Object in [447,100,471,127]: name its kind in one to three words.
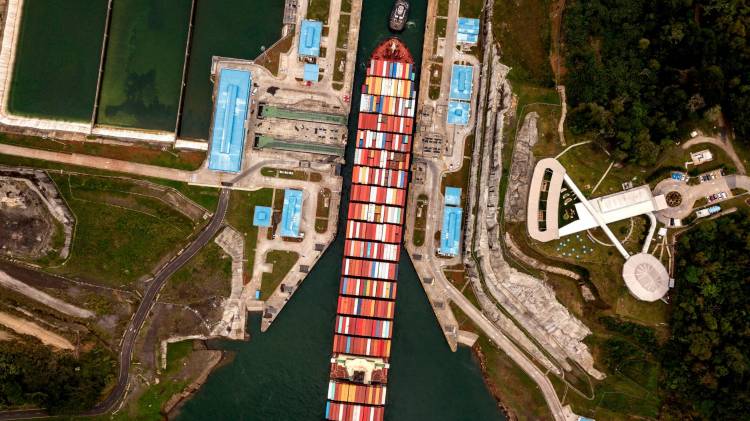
building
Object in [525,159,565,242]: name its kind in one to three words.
building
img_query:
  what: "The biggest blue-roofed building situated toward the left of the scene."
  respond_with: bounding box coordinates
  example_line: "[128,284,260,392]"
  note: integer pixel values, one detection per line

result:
[208,69,253,173]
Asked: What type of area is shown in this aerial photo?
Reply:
port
